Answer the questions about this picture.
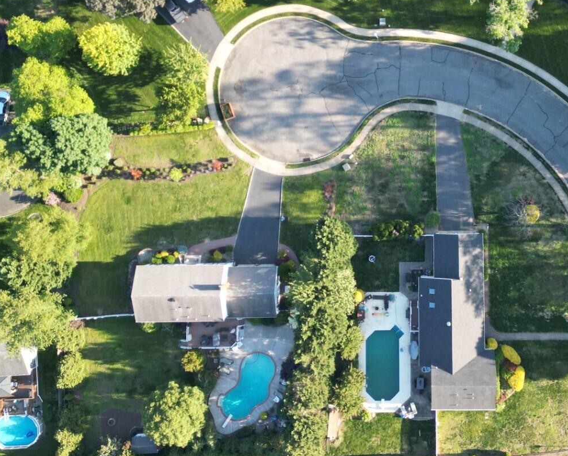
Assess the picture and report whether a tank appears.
No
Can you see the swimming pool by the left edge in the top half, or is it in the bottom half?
bottom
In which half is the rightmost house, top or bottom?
bottom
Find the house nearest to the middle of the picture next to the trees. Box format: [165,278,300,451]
[131,256,280,350]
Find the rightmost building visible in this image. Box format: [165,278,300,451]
[411,233,496,411]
